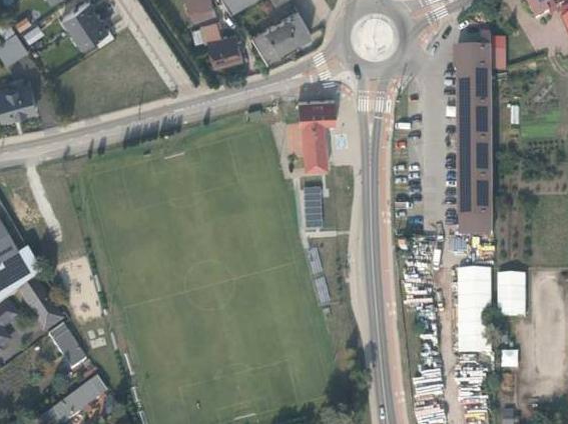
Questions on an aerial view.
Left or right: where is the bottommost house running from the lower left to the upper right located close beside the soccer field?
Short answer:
left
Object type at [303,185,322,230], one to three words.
building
